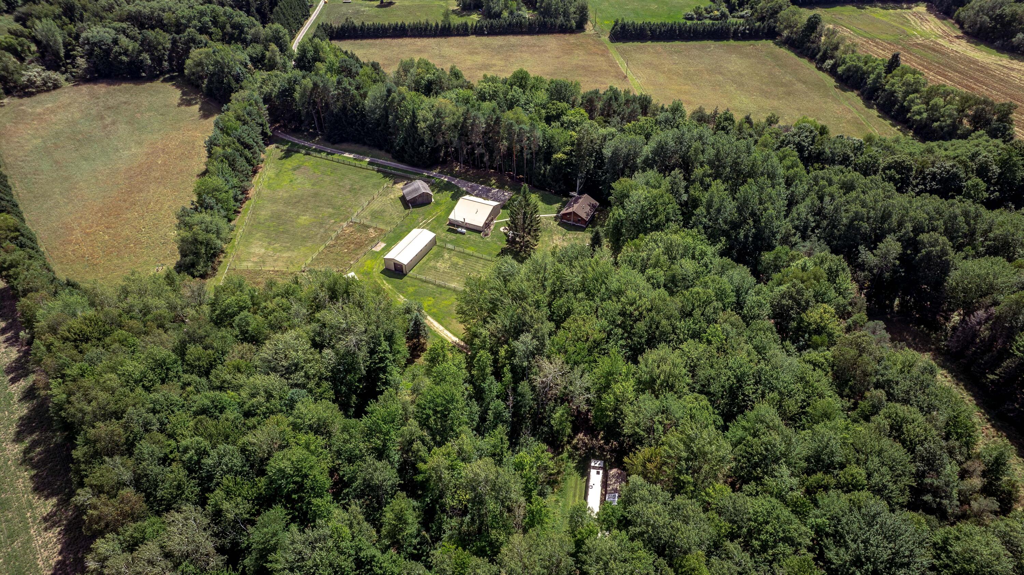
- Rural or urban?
rural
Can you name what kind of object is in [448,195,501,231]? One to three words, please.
building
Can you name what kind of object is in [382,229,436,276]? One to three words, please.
shed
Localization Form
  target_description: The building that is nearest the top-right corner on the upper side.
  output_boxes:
[560,194,599,227]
